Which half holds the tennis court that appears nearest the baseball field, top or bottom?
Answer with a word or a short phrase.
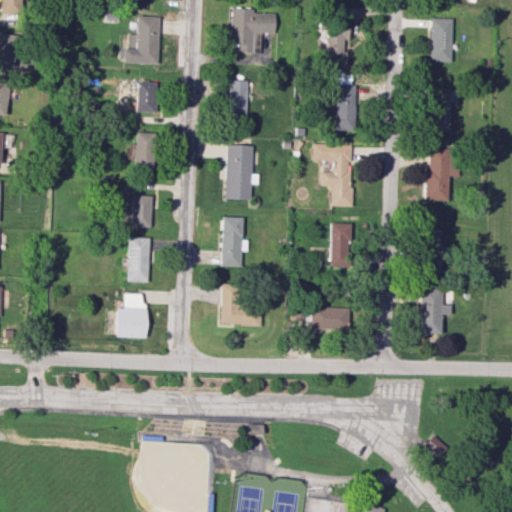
bottom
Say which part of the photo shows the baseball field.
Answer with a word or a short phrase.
bottom left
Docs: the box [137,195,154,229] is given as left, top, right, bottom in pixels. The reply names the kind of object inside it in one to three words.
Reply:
house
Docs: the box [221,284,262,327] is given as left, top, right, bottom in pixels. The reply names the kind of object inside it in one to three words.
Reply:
house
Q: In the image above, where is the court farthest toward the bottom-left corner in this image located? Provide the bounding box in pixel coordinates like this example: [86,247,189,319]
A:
[232,474,271,512]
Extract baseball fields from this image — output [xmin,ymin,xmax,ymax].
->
[0,442,212,512]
